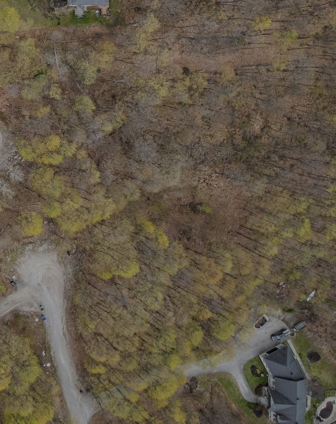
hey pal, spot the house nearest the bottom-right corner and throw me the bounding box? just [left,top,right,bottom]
[257,342,311,424]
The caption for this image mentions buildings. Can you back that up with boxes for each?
[257,342,311,424]
[66,0,109,19]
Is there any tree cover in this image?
Yes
